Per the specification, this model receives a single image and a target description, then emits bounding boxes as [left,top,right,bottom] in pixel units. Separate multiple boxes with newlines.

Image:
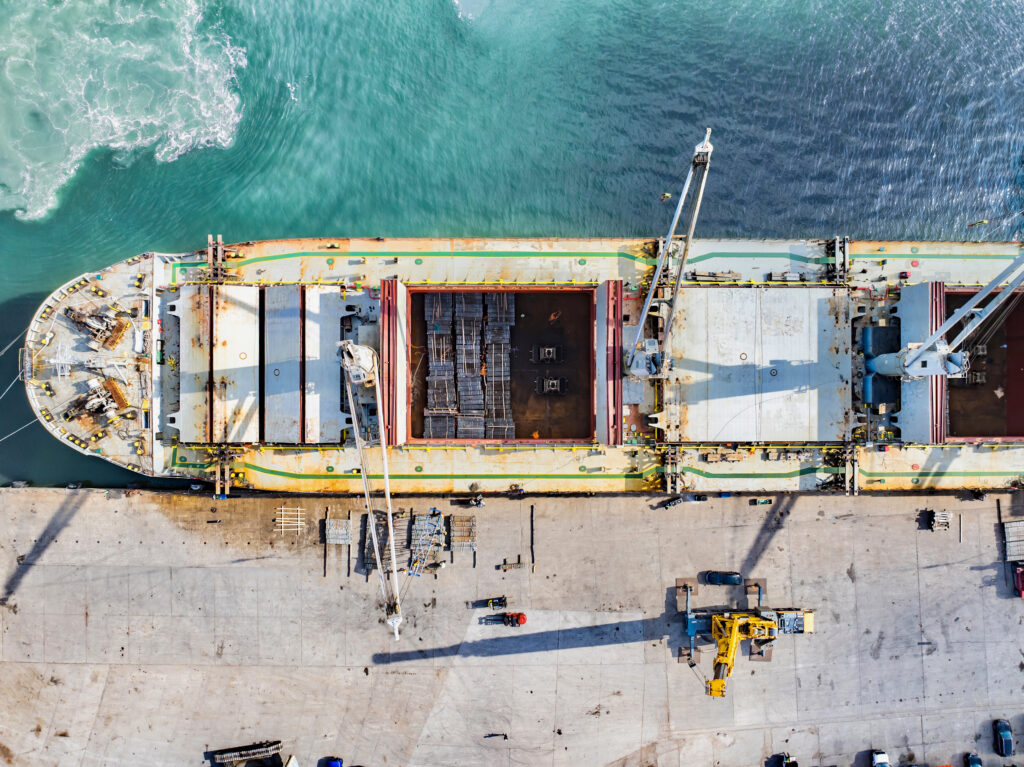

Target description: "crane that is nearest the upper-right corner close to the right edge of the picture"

[851,260,1024,384]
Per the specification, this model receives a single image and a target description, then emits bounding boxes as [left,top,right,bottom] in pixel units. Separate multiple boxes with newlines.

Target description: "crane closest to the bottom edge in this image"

[679,581,813,697]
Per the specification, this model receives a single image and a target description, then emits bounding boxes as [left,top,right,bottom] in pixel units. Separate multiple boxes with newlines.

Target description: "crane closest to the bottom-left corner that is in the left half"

[328,340,404,642]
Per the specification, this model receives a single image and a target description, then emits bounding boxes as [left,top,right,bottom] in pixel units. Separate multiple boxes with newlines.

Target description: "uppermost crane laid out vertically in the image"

[622,128,712,383]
